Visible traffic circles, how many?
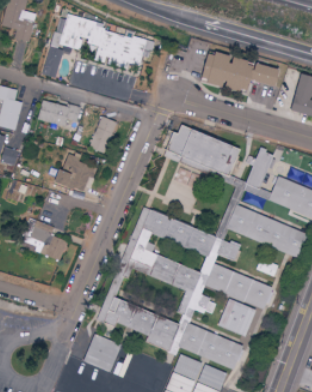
none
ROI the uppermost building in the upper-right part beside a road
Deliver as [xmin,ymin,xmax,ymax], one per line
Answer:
[202,52,278,90]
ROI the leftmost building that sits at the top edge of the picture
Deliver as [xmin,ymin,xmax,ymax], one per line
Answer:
[2,0,36,42]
